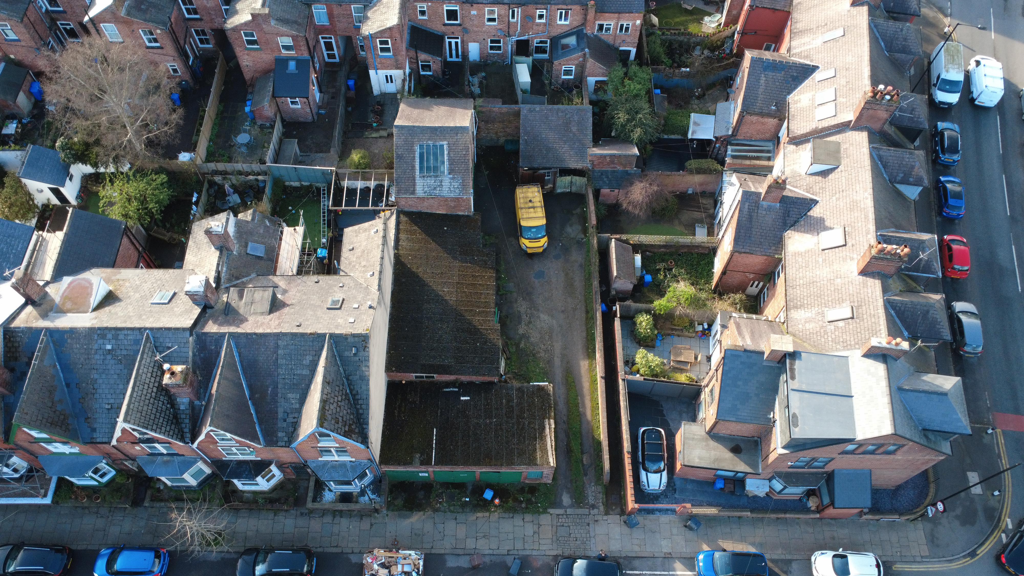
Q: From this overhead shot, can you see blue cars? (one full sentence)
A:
Yes, there is a blue car in the image.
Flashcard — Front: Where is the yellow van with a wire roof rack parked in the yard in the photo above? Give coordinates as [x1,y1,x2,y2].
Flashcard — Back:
[516,181,551,255]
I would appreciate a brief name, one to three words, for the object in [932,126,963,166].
car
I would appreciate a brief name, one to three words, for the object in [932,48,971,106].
van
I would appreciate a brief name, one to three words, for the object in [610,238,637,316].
shed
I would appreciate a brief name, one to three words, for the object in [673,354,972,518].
house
